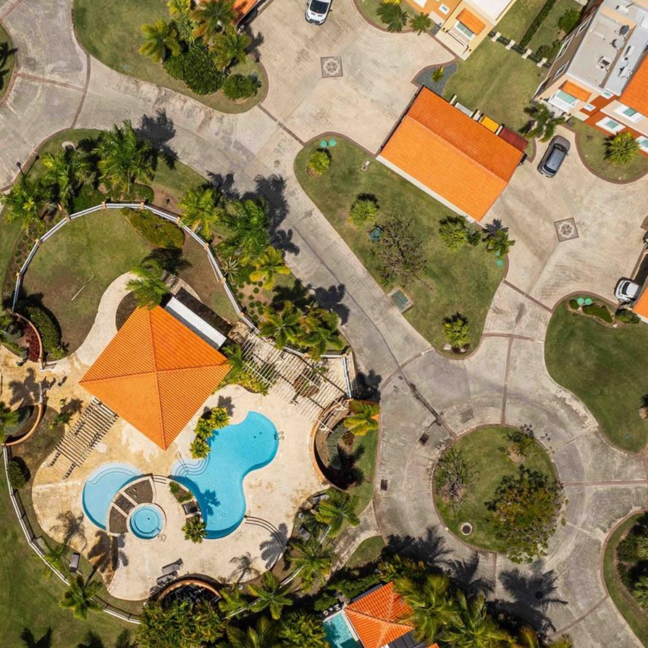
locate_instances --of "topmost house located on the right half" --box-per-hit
[411,0,511,58]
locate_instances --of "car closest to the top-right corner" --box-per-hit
[535,132,569,182]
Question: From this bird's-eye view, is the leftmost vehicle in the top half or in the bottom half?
top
